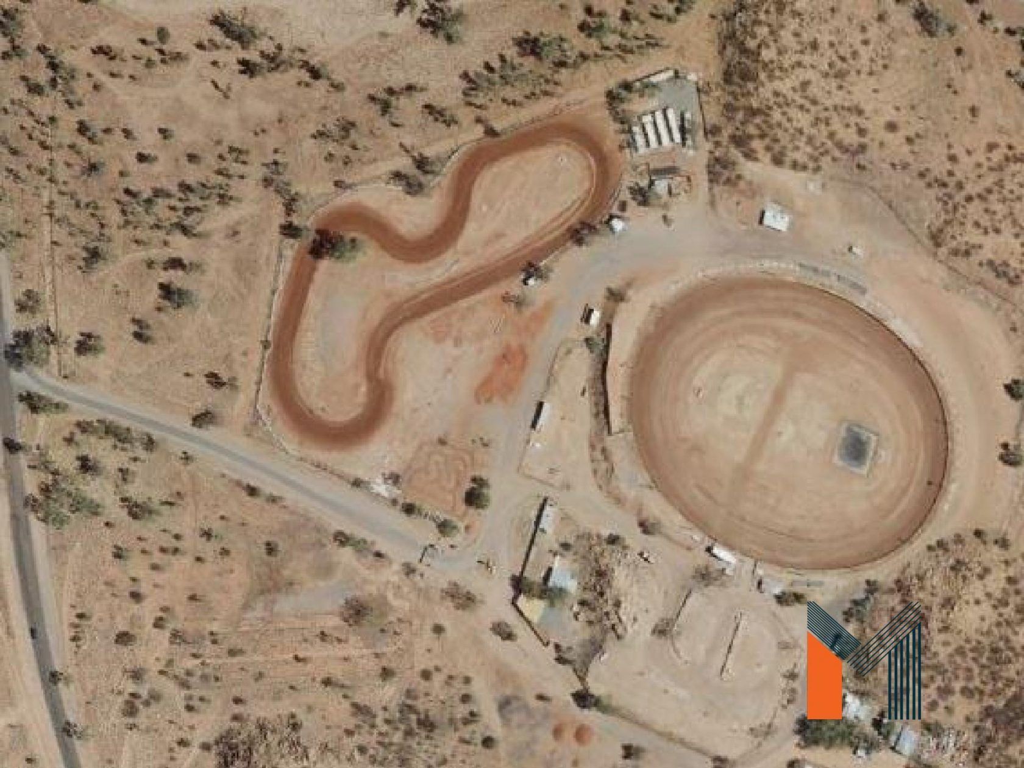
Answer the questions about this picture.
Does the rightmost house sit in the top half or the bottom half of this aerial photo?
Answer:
bottom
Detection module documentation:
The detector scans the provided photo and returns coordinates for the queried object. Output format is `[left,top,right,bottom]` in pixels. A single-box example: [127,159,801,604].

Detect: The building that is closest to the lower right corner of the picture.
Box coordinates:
[897,728,917,753]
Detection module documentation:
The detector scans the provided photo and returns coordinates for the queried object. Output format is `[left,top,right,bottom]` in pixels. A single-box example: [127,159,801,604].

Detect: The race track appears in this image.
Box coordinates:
[265,111,623,453]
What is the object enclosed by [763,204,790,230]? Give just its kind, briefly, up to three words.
building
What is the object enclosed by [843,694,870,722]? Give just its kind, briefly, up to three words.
shed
